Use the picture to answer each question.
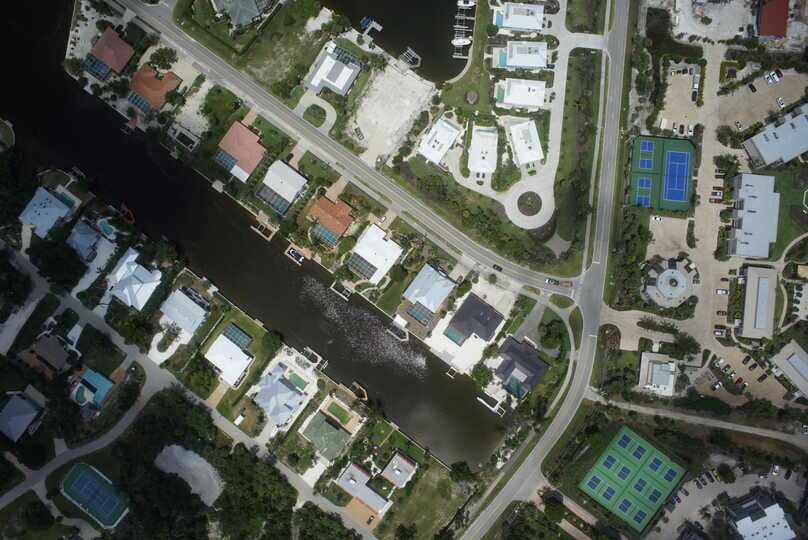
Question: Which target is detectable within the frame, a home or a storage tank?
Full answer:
This aerial view contains a home.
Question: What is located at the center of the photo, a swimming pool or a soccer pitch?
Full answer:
There is a swimming pool at the center of the photo.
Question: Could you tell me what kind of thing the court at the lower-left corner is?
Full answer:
Looking closely, the court at the lower-left corner is a tennis court.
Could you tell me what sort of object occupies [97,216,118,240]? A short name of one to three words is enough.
swimming pool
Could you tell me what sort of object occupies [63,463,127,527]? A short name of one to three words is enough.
tennis court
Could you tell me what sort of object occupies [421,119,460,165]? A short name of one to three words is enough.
house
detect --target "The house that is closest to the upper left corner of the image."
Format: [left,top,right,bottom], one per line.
[82,28,134,81]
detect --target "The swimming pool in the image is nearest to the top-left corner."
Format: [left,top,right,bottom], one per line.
[82,53,110,80]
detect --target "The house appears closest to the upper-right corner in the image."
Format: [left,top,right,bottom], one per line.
[754,0,789,37]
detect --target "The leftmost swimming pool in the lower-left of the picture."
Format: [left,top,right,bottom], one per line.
[72,383,94,406]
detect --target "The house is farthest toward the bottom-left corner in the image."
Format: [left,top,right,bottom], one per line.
[0,384,49,442]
